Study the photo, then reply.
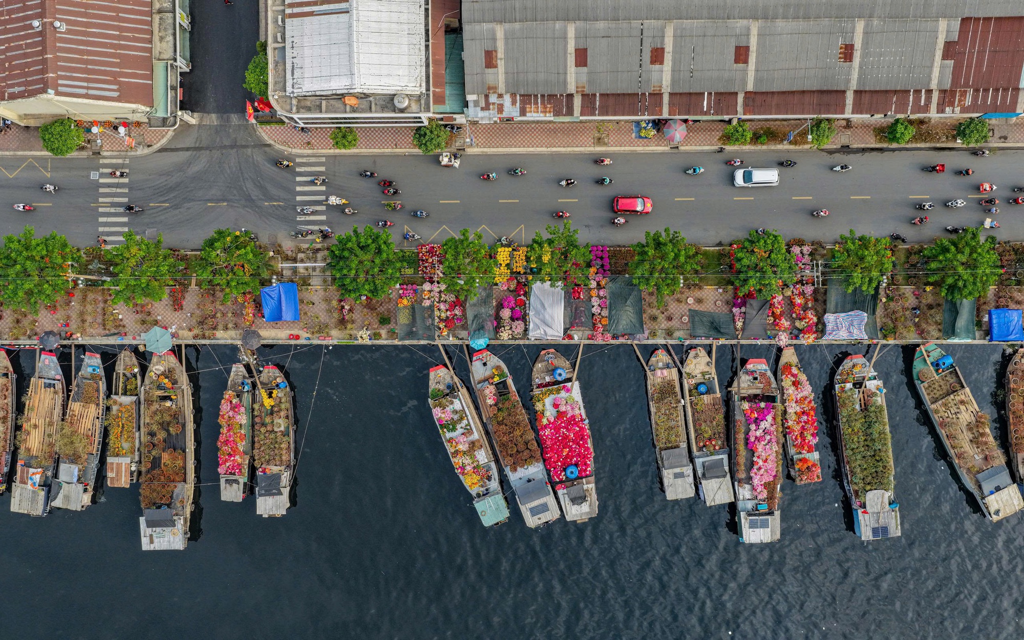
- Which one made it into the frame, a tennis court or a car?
car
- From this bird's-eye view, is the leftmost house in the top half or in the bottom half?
top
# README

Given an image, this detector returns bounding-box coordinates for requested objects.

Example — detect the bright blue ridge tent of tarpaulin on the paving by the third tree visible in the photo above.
[261,283,302,321]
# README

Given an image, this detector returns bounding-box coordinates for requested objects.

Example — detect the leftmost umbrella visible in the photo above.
[42,330,62,350]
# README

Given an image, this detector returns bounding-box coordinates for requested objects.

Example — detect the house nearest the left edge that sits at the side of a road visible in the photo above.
[0,0,158,124]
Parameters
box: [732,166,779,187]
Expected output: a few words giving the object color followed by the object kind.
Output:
white car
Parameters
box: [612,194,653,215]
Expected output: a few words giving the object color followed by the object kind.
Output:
red car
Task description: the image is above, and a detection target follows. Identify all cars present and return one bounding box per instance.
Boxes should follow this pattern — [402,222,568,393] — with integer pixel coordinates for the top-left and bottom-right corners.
[612,194,653,215]
[732,166,779,187]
